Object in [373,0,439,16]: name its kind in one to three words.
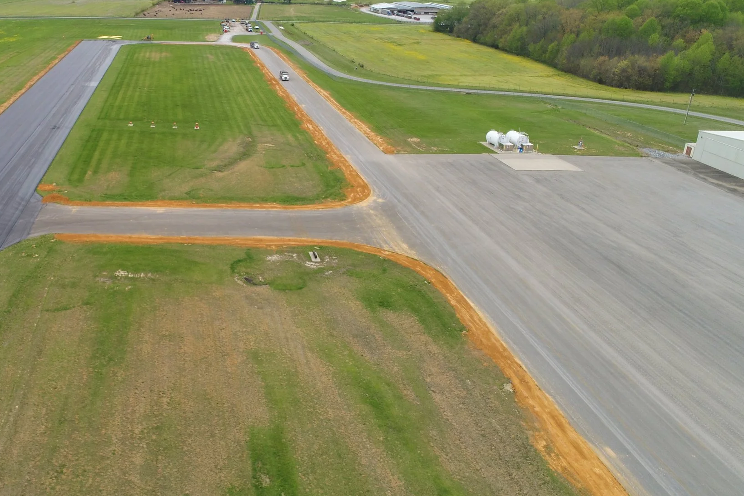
building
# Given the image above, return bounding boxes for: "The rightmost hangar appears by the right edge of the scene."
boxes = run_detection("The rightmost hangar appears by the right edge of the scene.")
[689,125,744,179]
